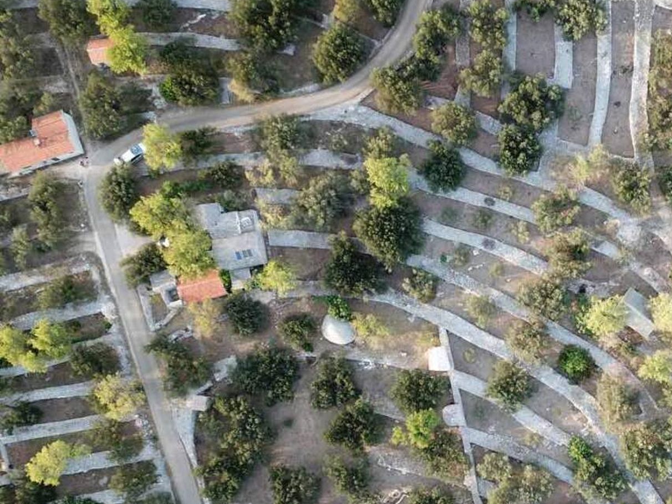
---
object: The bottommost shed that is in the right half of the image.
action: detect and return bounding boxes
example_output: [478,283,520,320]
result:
[428,348,451,370]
